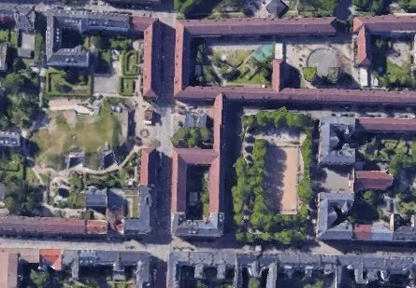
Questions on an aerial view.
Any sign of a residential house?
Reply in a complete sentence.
Yes, a residential house can be made out from above.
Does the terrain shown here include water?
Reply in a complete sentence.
No, there is no water in the image.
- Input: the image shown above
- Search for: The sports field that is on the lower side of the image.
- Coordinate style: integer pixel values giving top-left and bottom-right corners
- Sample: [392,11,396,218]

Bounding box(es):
[266,144,300,215]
